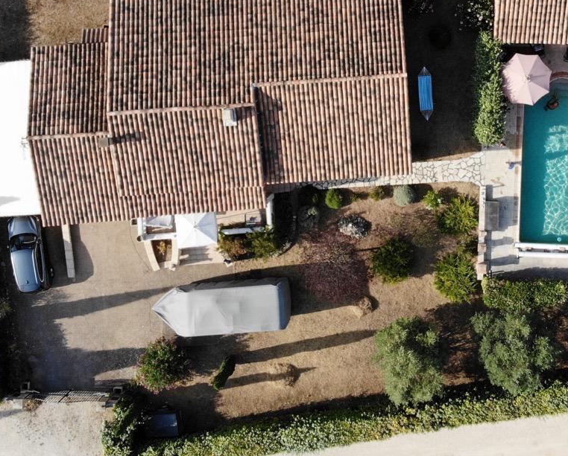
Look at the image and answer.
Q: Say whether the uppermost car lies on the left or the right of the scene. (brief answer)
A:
left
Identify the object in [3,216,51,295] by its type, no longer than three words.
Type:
car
